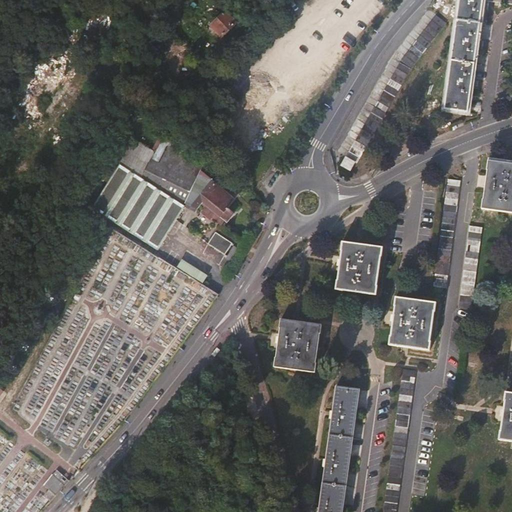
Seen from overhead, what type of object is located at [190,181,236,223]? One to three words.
house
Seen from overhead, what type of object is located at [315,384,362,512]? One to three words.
building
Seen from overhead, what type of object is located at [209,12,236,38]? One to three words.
house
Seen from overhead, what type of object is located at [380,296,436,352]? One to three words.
building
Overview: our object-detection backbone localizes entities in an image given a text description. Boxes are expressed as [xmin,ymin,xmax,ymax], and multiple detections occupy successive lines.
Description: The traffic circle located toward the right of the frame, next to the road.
[272,147,369,253]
